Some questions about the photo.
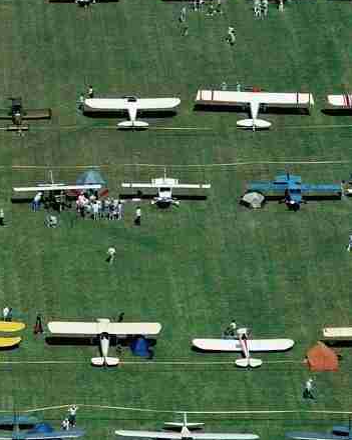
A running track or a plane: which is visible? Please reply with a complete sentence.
The one in the frame is a plane.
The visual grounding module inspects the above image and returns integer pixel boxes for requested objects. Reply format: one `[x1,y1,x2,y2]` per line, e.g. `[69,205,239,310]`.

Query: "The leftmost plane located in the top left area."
[0,100,53,134]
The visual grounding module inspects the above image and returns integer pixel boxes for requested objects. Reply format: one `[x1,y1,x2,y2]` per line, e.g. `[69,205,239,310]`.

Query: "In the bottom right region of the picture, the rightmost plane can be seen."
[322,326,352,344]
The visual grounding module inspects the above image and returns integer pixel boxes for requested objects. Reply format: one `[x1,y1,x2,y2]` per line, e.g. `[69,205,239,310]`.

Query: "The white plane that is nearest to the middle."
[122,170,211,209]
